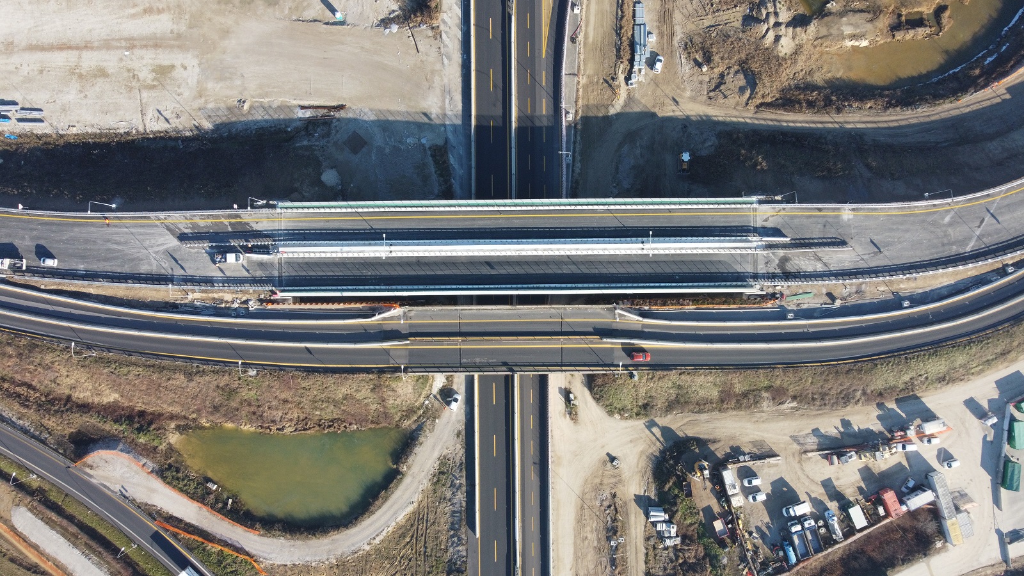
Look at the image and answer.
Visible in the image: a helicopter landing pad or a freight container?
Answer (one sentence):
Looking from above, you can make out a freight container.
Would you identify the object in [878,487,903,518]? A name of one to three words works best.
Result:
shipping container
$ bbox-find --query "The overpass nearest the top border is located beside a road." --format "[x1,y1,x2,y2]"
[272,196,762,295]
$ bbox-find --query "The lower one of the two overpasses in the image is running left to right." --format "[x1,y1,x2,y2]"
[404,305,618,374]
